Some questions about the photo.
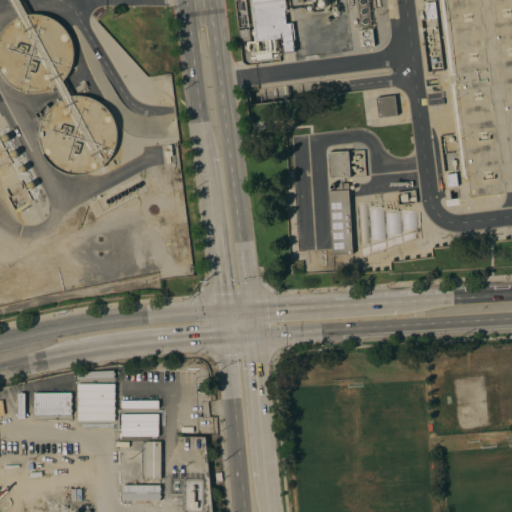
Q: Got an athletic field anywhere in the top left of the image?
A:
No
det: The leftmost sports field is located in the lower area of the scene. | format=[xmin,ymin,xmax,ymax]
[292,384,432,512]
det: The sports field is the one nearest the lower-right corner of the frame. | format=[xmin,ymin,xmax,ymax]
[445,448,512,512]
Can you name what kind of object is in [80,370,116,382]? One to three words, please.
shed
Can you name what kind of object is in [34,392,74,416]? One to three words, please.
building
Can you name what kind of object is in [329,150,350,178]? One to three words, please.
building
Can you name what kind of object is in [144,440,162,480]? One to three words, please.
shed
